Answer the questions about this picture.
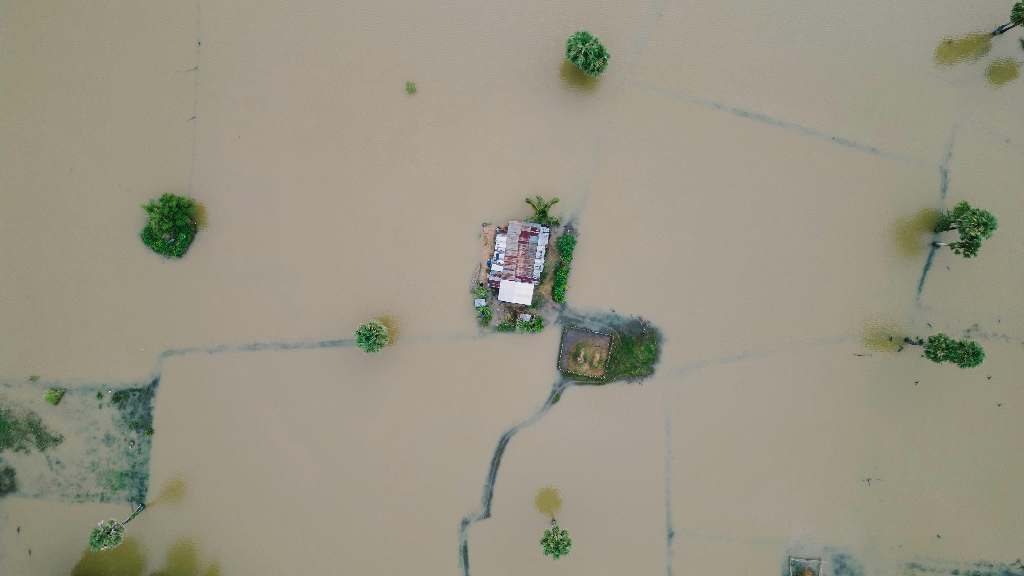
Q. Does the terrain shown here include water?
Yes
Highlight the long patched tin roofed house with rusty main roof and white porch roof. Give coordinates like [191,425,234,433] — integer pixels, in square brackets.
[487,221,549,305]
